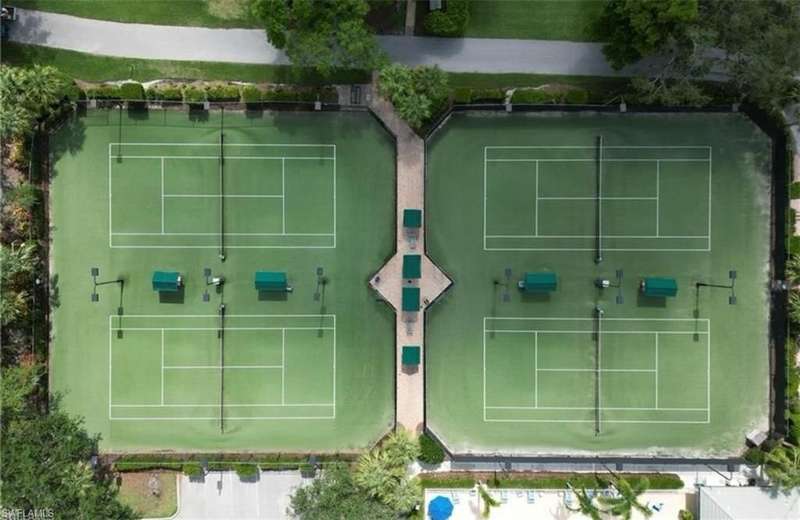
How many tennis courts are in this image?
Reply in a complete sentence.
There are 4 tennis courts in the image.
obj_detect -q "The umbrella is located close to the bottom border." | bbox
[428,494,453,520]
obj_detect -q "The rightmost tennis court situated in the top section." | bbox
[427,112,770,284]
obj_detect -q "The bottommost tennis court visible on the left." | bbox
[49,282,396,454]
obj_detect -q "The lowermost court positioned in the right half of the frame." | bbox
[427,284,770,457]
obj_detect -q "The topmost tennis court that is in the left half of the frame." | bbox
[49,108,396,282]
